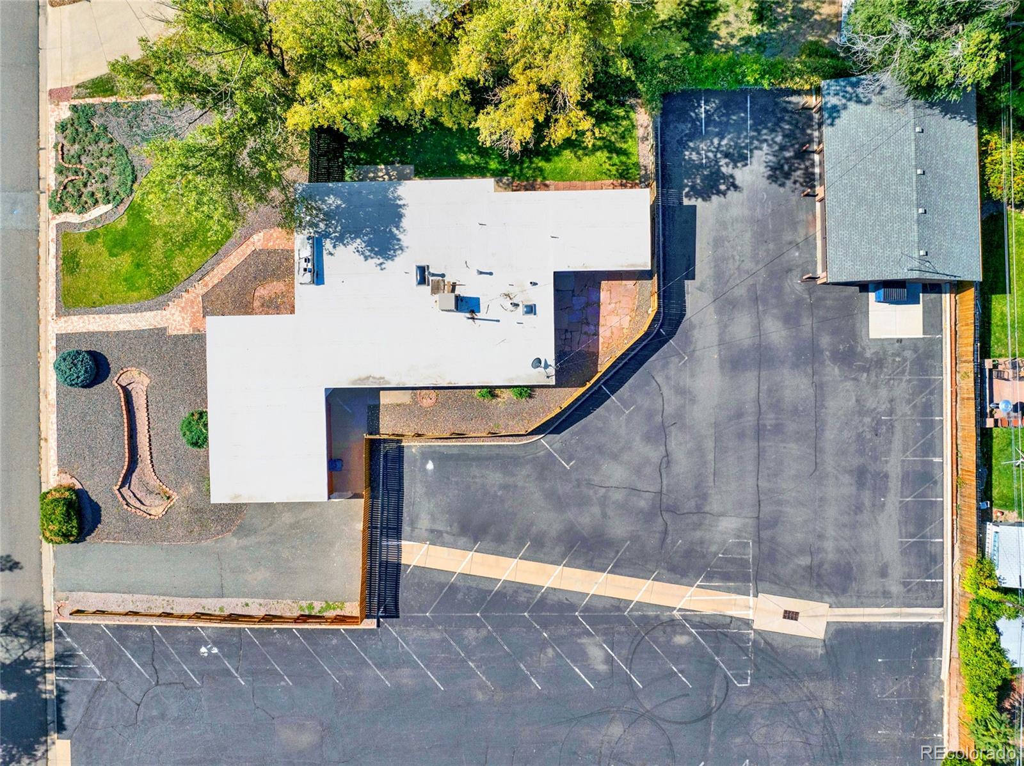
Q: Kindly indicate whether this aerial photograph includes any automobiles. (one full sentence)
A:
No, no automobile can be seen from above.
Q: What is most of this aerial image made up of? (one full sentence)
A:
The scene is dominated by paved ground.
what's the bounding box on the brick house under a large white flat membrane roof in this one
[206,178,651,503]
